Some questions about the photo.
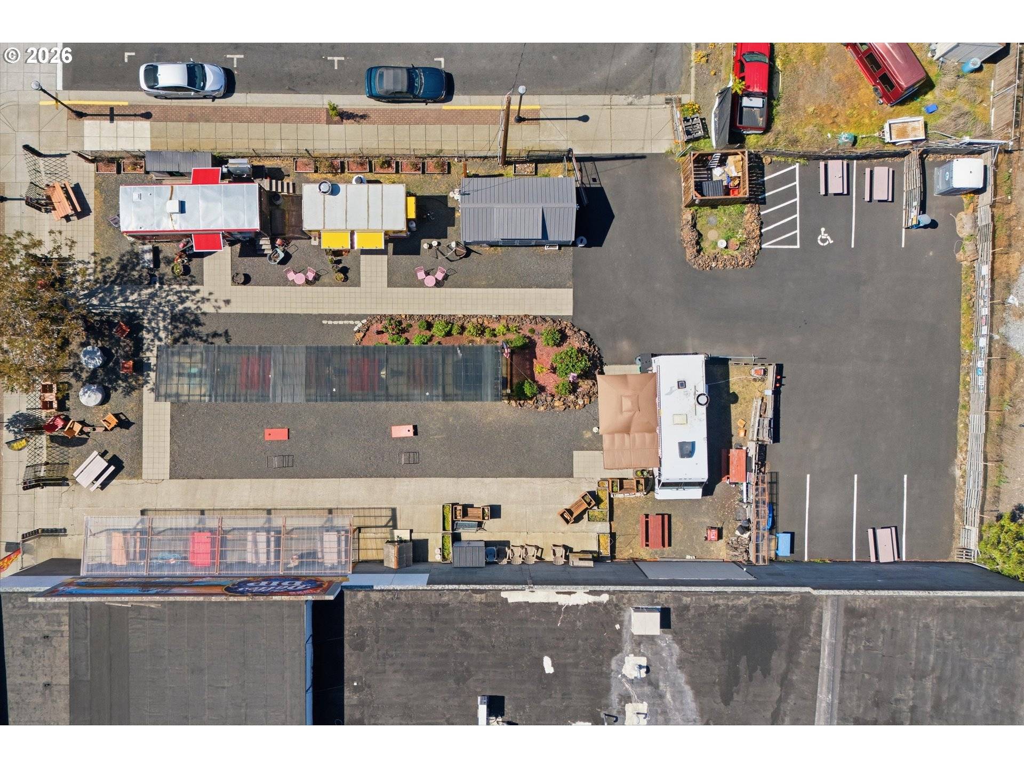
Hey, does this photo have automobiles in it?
Yes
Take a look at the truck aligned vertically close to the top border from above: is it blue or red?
red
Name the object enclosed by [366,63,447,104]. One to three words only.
car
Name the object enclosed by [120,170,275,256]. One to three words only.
trailer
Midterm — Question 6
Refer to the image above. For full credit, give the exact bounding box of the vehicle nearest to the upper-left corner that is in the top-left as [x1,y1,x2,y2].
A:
[141,60,227,100]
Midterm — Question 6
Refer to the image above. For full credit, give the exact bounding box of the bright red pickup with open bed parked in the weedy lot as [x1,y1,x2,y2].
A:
[731,37,775,138]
